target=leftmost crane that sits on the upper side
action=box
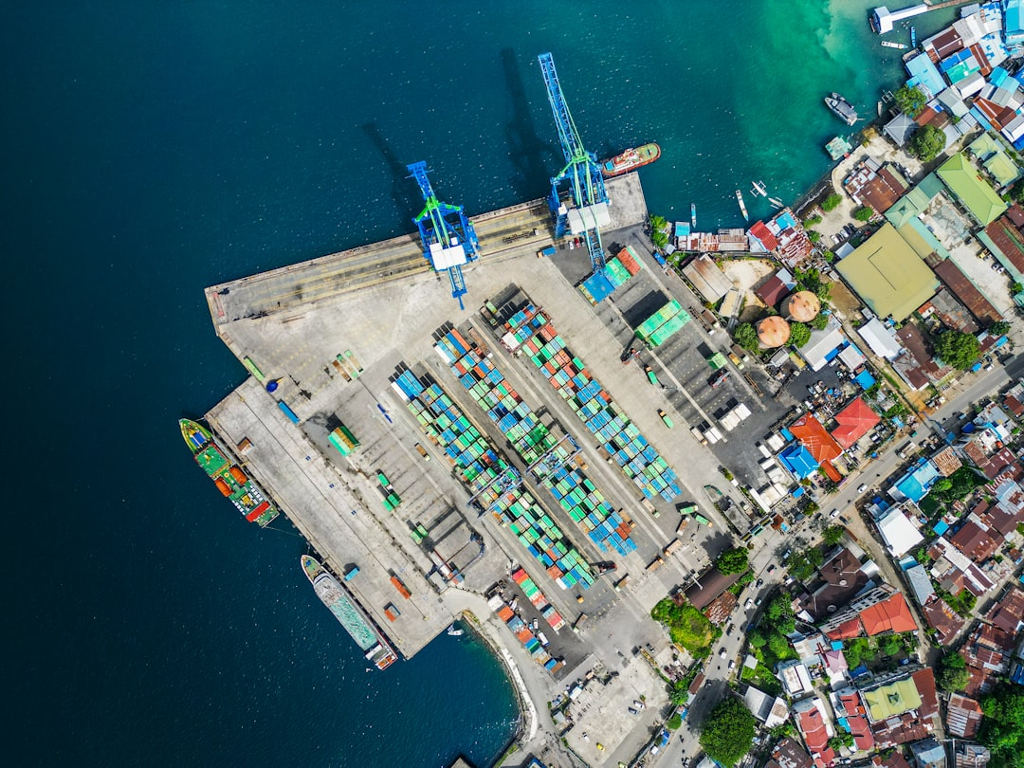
[406,160,483,311]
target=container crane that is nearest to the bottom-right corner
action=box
[523,430,580,486]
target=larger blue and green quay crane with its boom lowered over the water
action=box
[538,48,612,279]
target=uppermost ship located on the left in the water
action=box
[179,420,278,527]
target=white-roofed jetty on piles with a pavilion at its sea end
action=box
[871,0,957,35]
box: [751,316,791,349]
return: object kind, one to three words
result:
storage tank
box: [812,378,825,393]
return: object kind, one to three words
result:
vehicle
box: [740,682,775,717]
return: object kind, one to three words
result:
house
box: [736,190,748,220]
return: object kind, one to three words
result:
boat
